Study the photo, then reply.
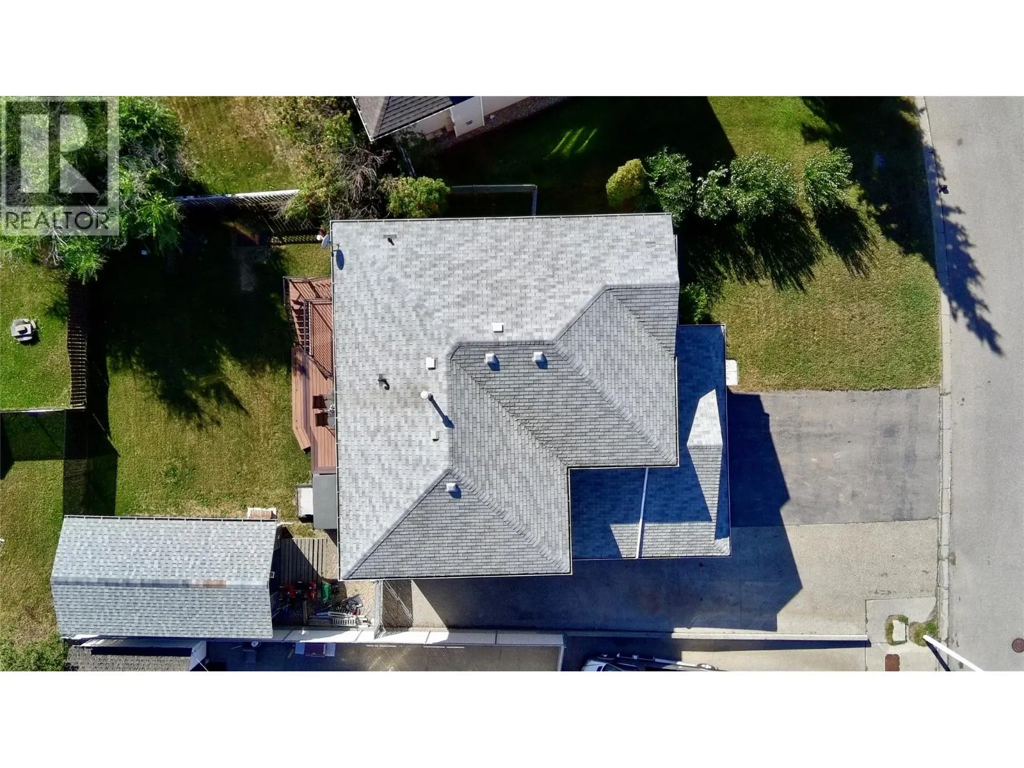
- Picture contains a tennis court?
No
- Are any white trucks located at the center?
No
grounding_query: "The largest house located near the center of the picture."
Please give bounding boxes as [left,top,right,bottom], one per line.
[331,212,731,579]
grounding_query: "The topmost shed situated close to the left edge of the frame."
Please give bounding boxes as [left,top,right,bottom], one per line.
[51,515,286,637]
